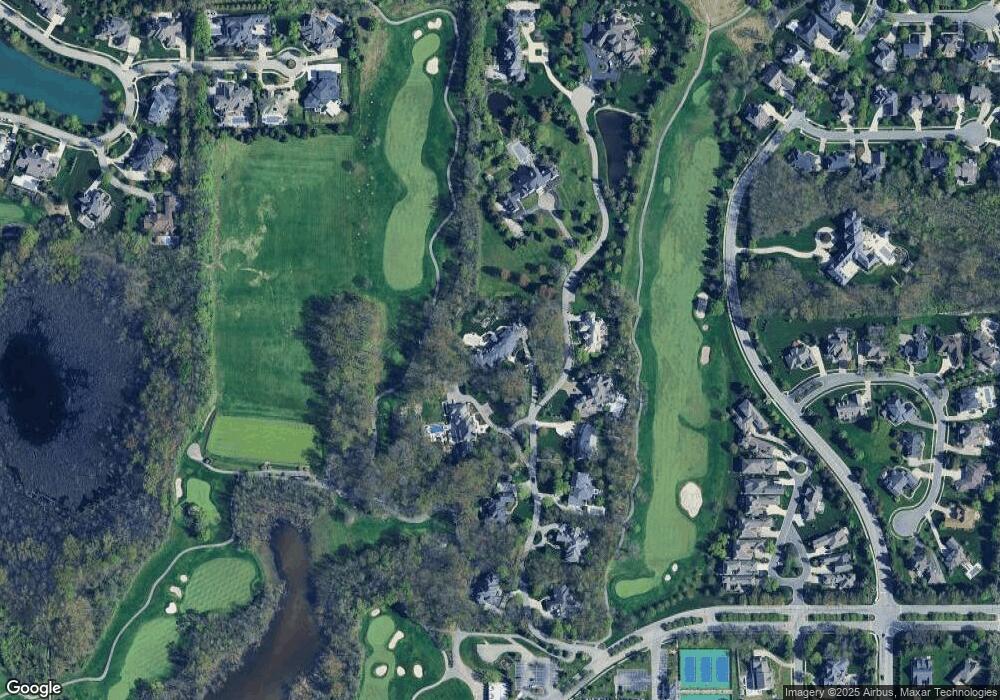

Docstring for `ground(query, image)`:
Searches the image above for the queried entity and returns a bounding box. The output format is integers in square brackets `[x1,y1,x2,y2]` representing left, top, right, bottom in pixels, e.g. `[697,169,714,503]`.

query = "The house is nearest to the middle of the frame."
[473,317,530,374]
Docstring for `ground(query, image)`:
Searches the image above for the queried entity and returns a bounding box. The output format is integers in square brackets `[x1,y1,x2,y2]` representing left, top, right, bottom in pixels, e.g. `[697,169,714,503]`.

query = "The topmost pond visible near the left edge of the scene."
[0,42,104,123]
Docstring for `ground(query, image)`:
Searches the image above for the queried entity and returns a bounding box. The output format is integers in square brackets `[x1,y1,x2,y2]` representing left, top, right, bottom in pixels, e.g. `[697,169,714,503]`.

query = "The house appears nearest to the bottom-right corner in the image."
[950,660,982,690]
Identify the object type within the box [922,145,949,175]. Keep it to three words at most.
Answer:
house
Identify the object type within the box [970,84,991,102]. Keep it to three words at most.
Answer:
house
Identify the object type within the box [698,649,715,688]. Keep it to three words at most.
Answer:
tennis court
